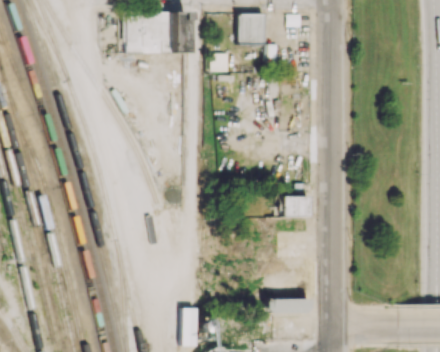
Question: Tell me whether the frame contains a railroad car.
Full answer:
Yes, the photo shows a railroad car.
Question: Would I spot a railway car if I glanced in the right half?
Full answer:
No, the scene shows no railway car in the right half.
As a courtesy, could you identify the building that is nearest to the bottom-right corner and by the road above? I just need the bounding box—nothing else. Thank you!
[262,299,316,312]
